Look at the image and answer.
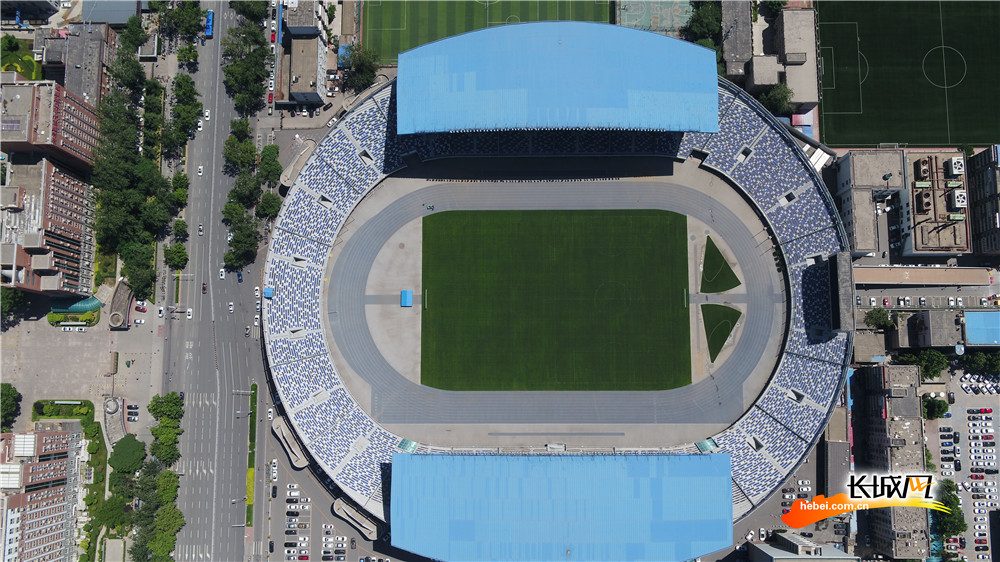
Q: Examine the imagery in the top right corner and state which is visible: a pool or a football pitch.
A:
football pitch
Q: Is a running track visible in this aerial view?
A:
Yes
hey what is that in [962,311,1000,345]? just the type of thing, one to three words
building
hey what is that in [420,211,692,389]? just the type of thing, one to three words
soccer field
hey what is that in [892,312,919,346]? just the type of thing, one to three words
house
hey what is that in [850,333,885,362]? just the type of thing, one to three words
shed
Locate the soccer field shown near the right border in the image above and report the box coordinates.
[820,0,1000,146]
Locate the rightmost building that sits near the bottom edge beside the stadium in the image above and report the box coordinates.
[868,414,932,558]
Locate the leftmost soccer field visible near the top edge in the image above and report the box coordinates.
[362,0,611,67]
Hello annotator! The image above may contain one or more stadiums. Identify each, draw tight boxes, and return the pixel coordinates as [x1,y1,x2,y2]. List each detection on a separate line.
[263,21,854,562]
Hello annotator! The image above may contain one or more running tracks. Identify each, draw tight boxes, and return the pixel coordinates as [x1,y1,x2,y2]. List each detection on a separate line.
[326,182,784,424]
